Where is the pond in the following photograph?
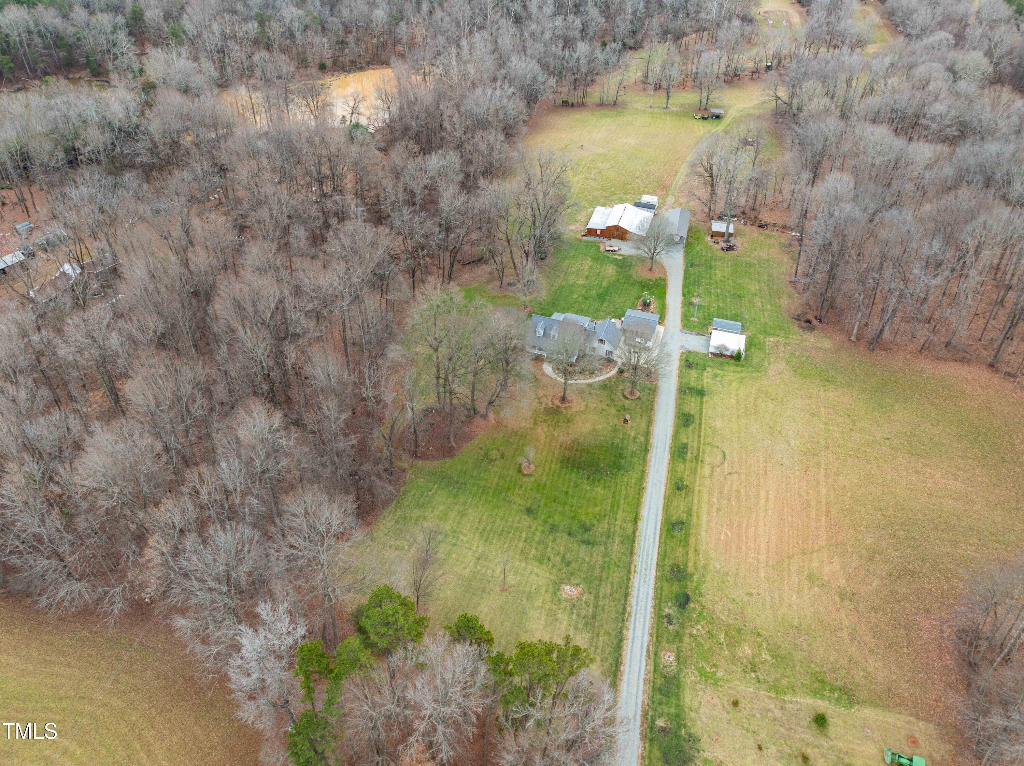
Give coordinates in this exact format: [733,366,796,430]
[176,67,434,143]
